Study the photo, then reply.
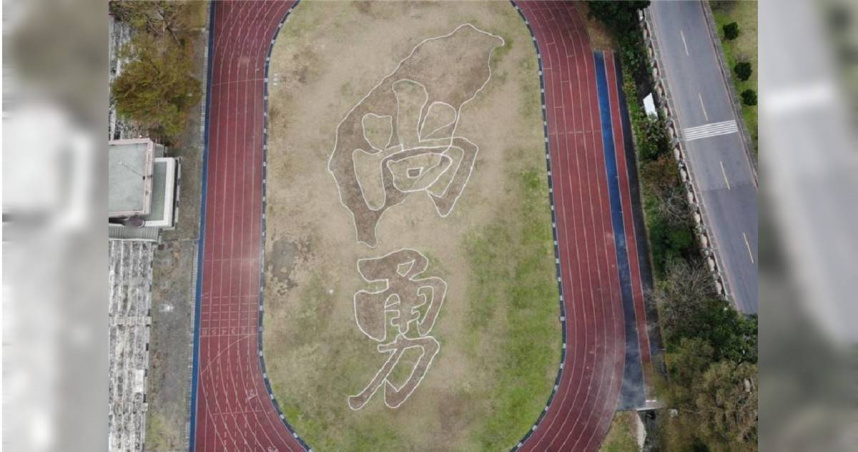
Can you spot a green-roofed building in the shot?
No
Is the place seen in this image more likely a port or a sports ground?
sports ground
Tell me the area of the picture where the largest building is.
left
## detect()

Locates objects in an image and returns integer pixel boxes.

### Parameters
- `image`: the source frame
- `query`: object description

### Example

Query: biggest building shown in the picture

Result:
[12,140,183,245]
